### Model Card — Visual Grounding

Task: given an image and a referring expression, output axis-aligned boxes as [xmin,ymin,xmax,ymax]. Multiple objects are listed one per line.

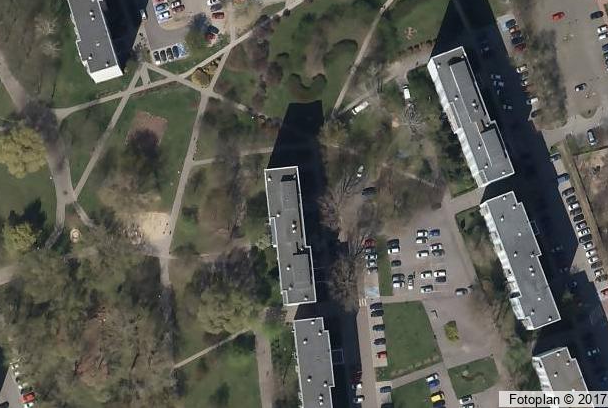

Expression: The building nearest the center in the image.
[262,166,316,306]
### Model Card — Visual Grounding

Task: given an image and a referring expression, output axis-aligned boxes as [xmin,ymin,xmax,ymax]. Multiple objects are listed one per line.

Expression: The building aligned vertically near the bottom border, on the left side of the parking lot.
[287,317,334,408]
